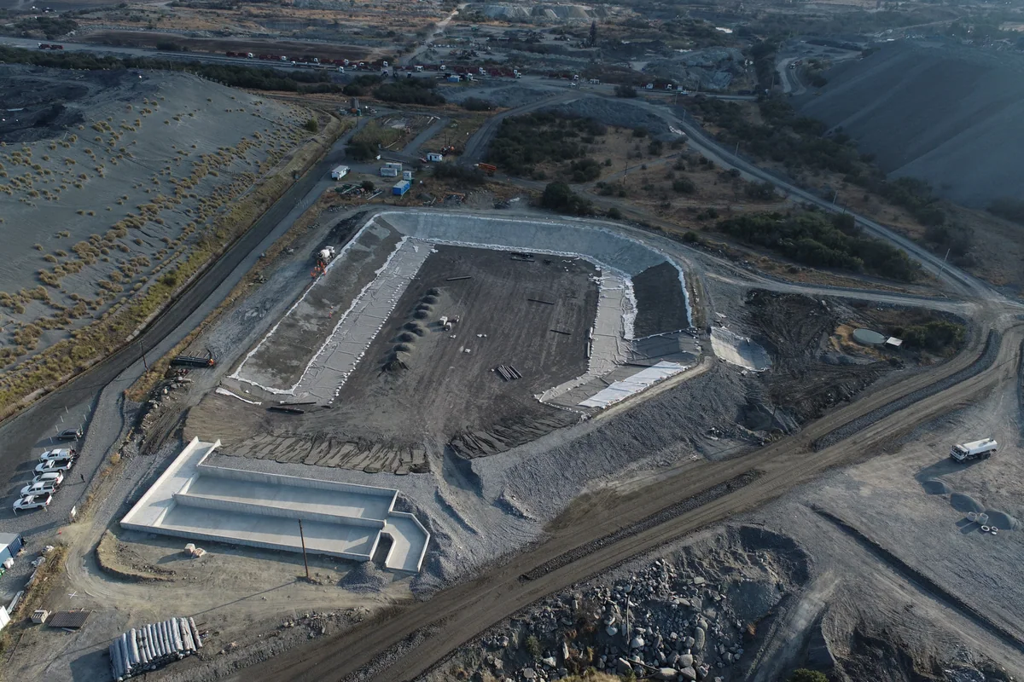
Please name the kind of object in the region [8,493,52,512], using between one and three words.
vehicle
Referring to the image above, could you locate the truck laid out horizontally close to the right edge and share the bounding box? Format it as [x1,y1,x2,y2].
[950,437,1002,464]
